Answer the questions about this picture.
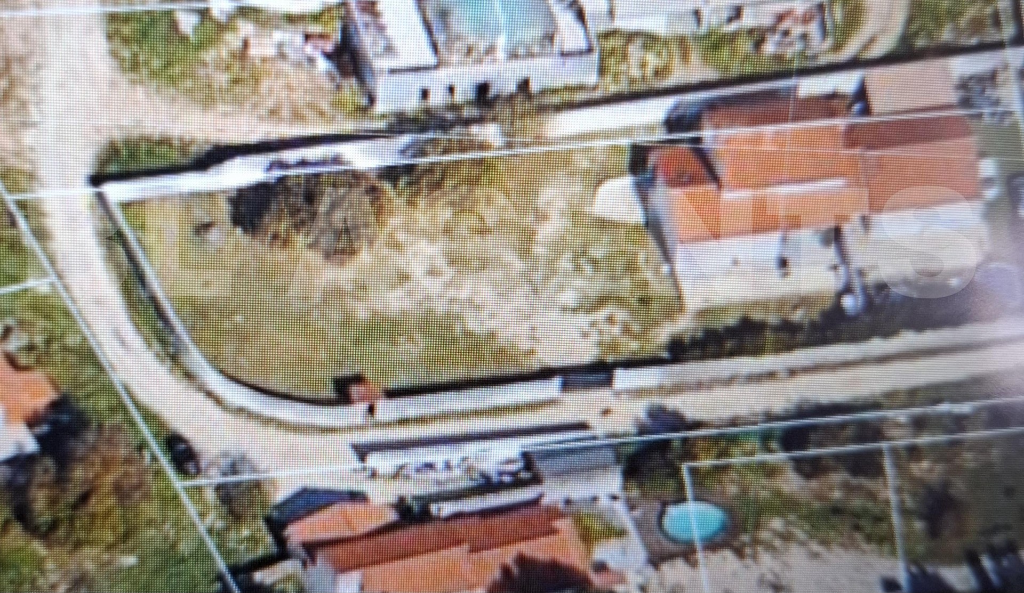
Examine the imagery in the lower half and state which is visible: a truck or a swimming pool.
swimming pool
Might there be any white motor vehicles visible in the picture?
No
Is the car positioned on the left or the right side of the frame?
left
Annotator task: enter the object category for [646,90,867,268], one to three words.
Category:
house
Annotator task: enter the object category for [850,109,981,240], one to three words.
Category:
house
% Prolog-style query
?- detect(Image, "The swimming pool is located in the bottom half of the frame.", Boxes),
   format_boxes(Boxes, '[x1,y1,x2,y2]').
[657,498,732,551]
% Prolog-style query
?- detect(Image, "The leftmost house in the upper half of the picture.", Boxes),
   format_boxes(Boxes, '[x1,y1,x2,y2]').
[338,0,593,110]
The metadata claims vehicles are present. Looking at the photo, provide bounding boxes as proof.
[160,427,205,480]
